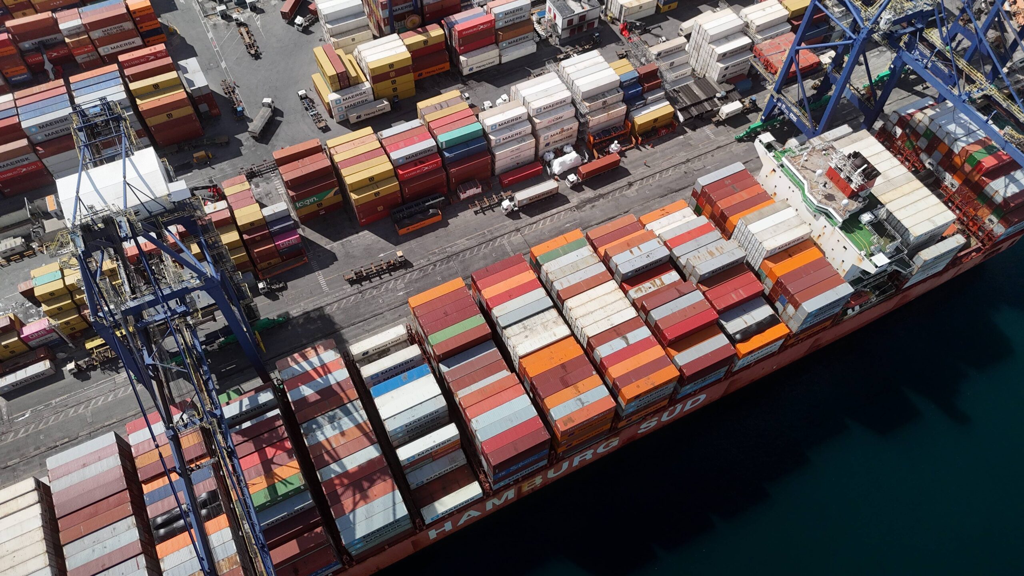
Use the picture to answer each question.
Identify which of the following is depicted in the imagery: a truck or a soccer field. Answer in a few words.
truck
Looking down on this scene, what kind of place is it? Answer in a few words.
port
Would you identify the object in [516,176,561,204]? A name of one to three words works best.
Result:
shipping container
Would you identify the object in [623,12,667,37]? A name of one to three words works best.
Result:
work vehicle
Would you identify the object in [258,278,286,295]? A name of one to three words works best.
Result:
vehicle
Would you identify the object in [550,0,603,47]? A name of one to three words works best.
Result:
building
